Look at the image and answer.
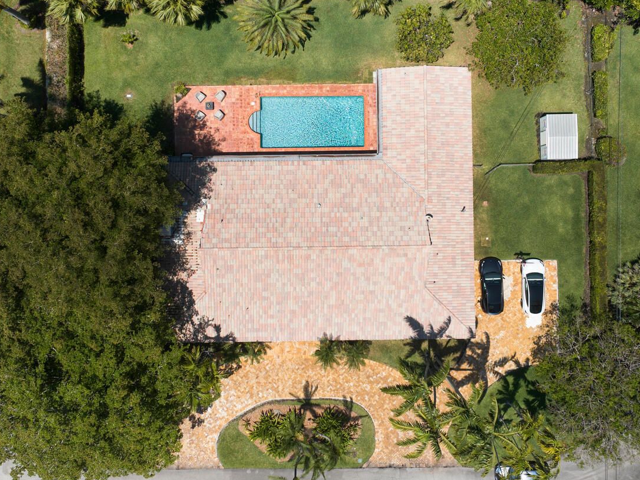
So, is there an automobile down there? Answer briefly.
Yes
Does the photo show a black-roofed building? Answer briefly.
No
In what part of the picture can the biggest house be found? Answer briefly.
center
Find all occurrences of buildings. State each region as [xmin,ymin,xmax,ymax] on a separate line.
[540,113,581,161]
[161,65,475,341]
